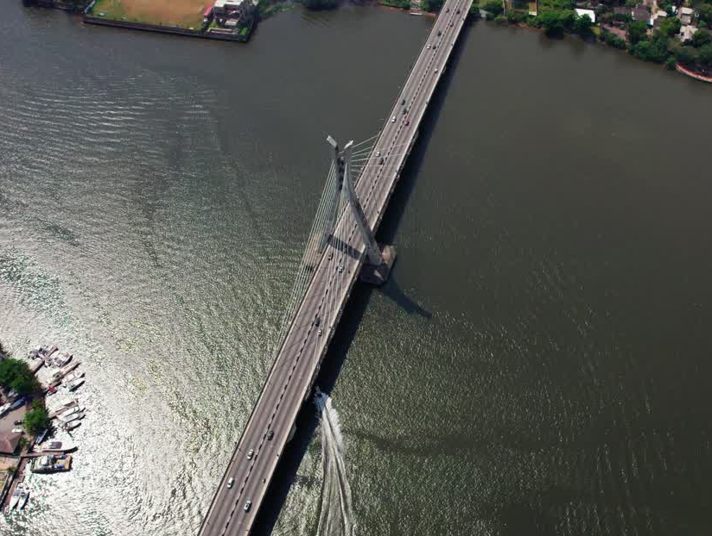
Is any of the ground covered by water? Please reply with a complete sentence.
Yes, water shows up in the scene.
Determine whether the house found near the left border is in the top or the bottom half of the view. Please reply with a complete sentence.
The house found near the left border sits in the bottom half of the picture.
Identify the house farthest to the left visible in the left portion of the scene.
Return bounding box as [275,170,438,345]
[0,431,24,454]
